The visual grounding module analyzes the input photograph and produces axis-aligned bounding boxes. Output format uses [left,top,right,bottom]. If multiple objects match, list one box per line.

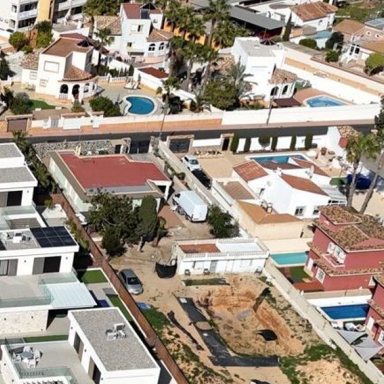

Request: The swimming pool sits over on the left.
[125,94,157,112]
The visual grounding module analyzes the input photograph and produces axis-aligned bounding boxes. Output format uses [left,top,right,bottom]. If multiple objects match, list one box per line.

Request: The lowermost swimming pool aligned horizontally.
[319,303,371,321]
